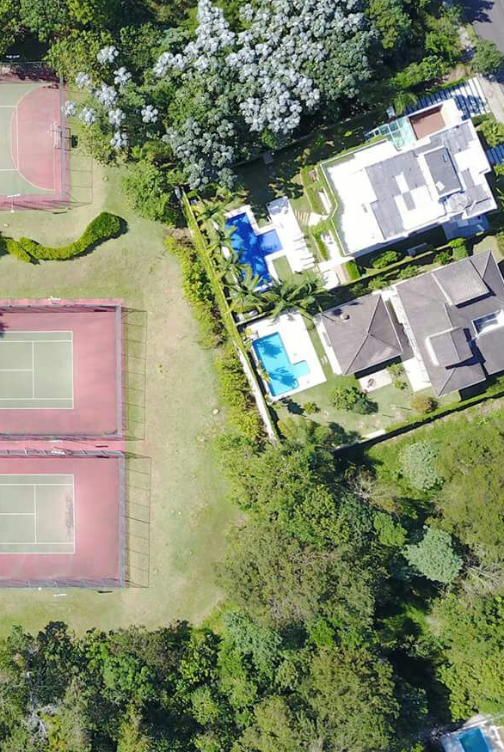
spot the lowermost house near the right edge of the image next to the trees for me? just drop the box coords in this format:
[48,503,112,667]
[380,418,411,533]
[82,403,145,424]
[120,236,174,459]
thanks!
[386,250,504,396]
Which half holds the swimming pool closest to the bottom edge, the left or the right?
right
